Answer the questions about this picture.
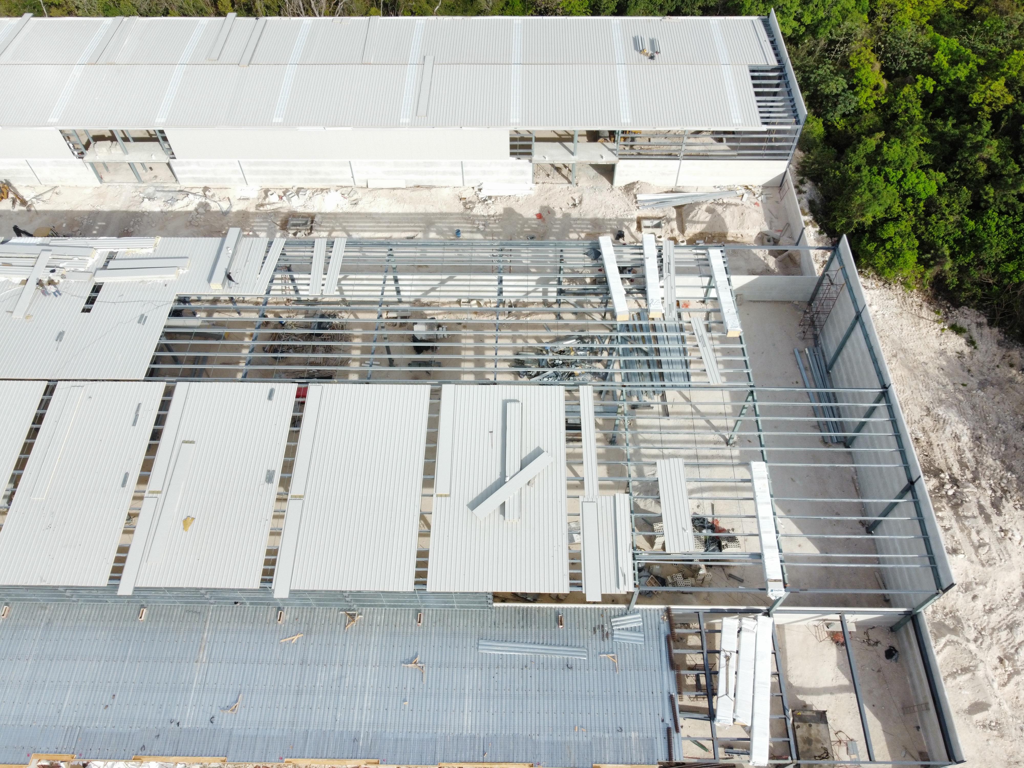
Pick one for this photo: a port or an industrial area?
industrial area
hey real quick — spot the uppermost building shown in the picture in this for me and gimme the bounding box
[0,8,809,188]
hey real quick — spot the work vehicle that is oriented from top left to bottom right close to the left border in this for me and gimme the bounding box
[0,180,24,209]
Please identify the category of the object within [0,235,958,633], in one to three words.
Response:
warehouse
